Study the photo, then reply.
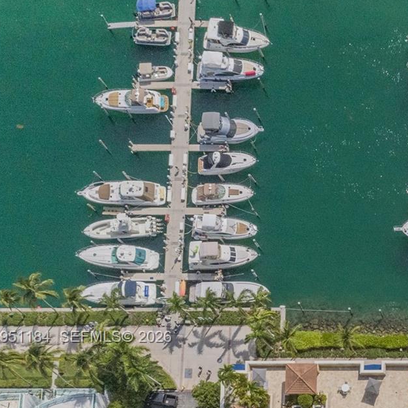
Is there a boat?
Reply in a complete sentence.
Yes, looking at the shot, I can spot a boat.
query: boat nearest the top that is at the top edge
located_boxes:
[134,0,177,21]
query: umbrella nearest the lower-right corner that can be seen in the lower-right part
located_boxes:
[362,377,383,396]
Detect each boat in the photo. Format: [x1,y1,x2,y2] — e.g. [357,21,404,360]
[198,152,259,176]
[134,0,177,21]
[193,183,257,206]
[198,54,264,83]
[73,244,161,271]
[81,218,162,243]
[81,282,157,308]
[190,280,270,308]
[190,242,258,271]
[130,26,174,46]
[89,90,171,117]
[205,24,270,55]
[193,212,258,241]
[184,277,189,298]
[133,65,174,81]
[75,182,167,208]
[199,116,264,145]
